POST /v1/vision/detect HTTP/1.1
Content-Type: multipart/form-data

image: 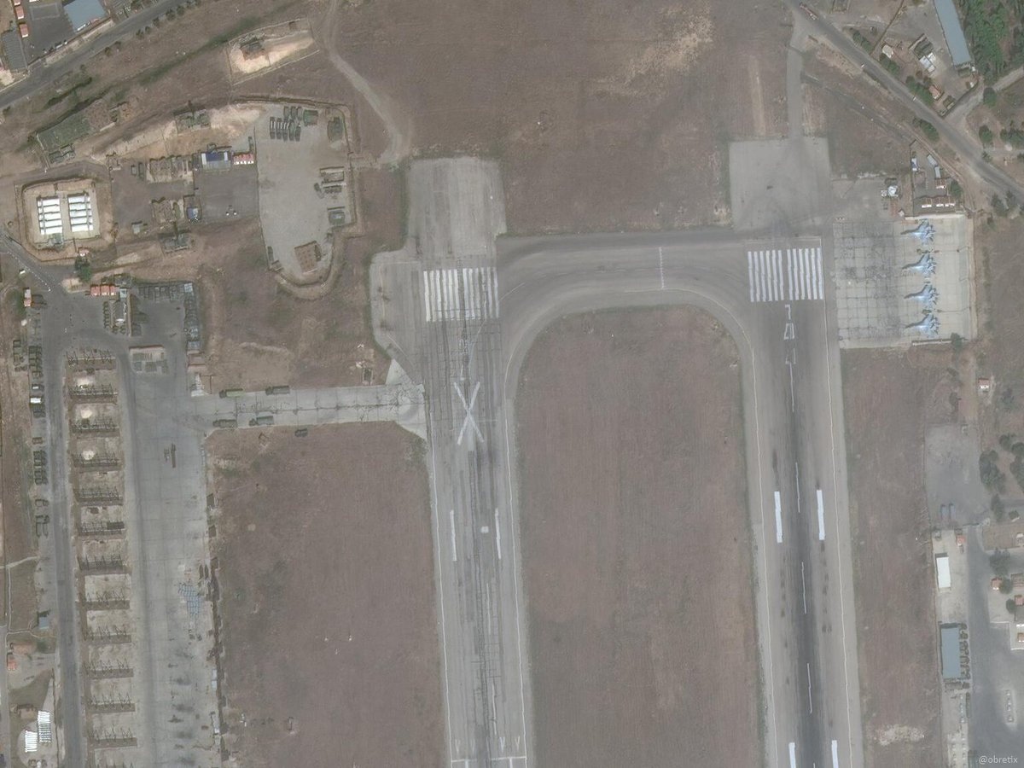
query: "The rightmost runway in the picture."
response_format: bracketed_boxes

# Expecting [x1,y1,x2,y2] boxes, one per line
[732,224,864,768]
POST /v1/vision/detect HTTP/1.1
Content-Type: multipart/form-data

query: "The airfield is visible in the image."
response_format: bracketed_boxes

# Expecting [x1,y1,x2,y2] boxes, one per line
[116,138,972,768]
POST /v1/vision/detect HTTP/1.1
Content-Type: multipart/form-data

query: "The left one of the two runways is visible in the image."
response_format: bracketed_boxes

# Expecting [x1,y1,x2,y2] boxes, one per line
[410,253,534,768]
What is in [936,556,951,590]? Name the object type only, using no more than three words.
shed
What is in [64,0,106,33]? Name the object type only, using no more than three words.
building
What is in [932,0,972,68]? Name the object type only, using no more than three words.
building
